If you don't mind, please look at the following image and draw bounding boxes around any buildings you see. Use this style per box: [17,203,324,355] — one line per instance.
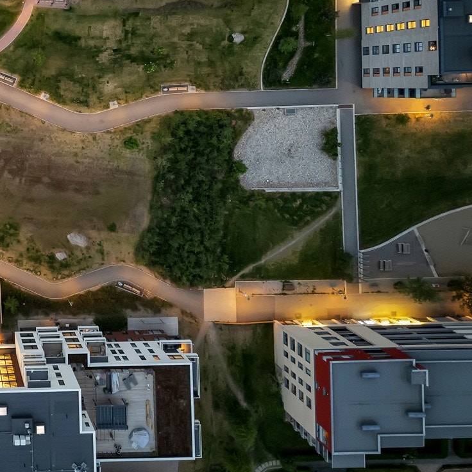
[0,323,201,472]
[275,319,472,468]
[359,0,472,101]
